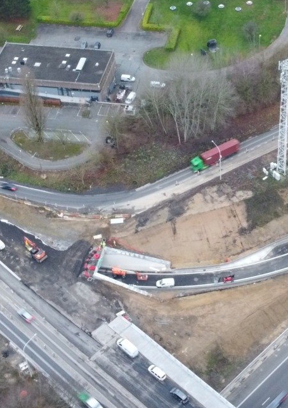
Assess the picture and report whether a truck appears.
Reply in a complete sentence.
Yes, a truck appears in the view.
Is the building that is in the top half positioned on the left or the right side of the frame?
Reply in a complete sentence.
The building that is in the top half appears in the left half of the scene.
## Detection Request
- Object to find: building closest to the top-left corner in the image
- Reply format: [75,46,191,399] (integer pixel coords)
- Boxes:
[0,44,114,100]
